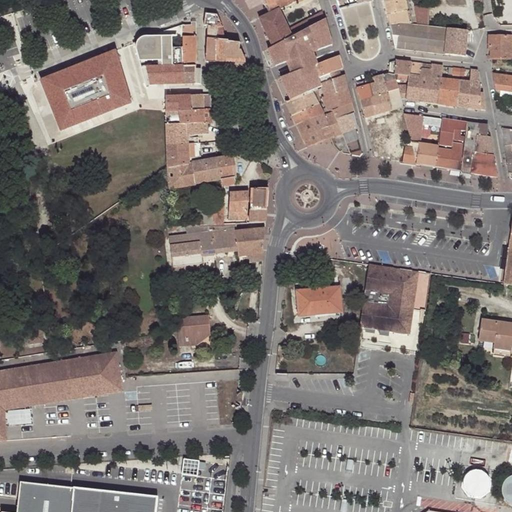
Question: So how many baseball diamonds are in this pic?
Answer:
none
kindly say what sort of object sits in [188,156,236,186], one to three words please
house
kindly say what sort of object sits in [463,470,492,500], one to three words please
building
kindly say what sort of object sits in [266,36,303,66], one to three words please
house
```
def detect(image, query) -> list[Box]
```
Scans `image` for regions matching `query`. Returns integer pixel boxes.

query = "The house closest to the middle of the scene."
[236,224,264,262]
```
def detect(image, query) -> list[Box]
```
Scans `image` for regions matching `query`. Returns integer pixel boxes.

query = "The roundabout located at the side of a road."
[277,165,339,227]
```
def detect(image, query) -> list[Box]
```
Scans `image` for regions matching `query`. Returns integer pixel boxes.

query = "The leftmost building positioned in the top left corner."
[40,48,130,130]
